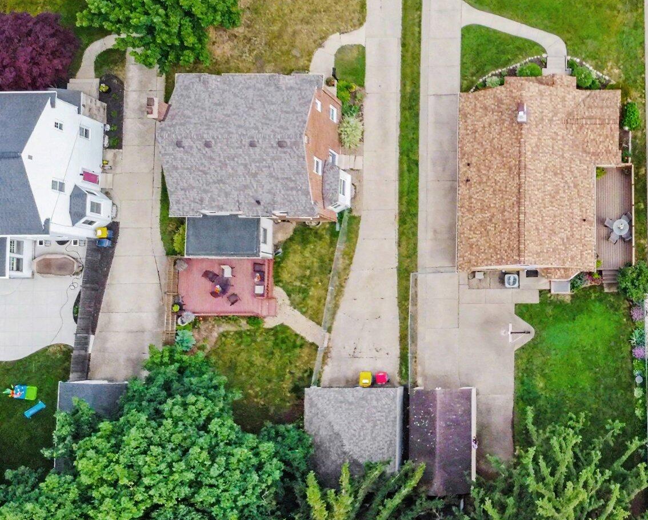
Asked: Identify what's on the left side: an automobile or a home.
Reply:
home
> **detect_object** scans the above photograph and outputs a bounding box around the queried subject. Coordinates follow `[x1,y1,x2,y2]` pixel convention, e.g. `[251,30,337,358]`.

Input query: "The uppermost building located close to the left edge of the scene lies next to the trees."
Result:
[0,90,114,280]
